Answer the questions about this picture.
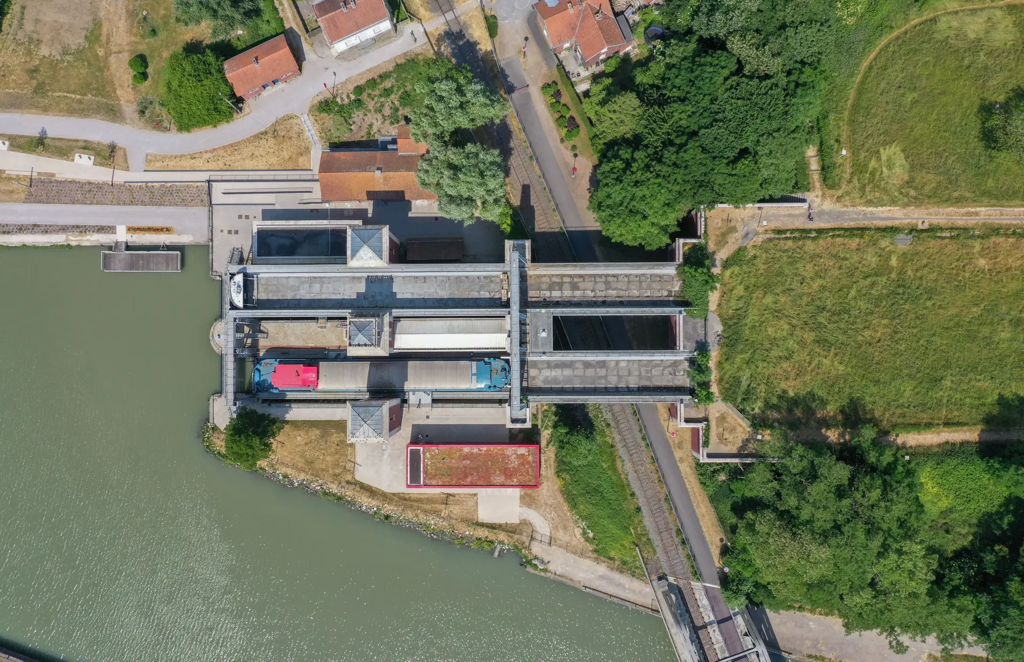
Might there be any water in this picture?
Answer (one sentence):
Yes, water can be seen from above here.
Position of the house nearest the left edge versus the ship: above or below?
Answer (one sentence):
The house nearest the left edge is located above the ship in this view.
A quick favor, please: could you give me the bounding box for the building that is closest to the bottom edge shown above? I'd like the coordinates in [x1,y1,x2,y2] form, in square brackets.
[407,444,540,488]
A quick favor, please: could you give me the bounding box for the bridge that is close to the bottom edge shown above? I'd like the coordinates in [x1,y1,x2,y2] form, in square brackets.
[635,545,772,662]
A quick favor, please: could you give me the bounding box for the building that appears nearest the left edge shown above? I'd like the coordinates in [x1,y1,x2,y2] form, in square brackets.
[224,34,304,105]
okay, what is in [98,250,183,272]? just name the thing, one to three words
pier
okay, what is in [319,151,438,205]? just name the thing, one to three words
building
